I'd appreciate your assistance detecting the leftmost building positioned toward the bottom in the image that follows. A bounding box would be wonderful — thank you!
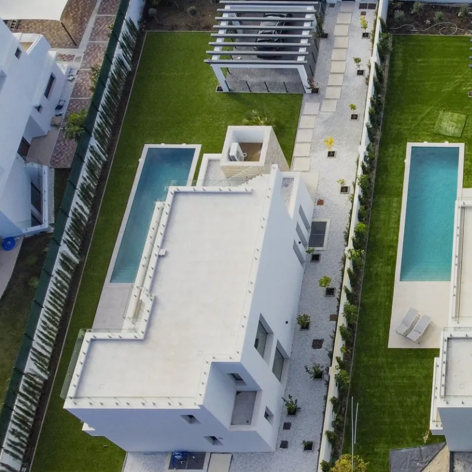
[60,123,315,452]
